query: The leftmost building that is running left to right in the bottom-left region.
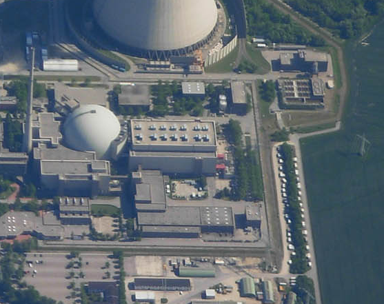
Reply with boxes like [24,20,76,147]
[0,211,65,241]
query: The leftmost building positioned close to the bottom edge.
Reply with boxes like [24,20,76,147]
[88,282,119,304]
